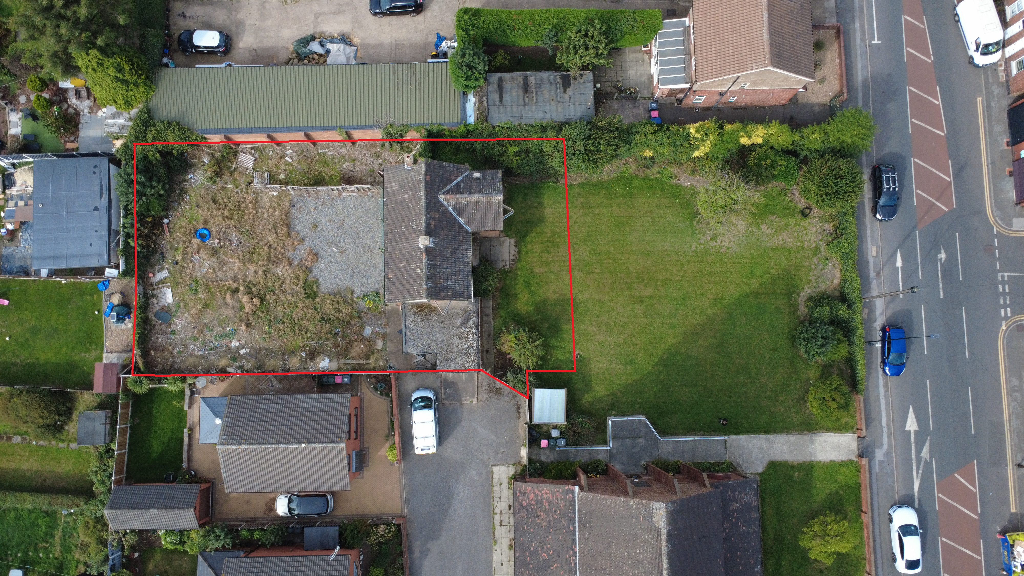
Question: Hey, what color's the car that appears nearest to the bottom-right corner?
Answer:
white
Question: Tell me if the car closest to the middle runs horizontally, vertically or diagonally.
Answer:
vertically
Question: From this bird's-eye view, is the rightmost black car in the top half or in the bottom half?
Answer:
top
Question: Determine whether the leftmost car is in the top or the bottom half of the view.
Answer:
top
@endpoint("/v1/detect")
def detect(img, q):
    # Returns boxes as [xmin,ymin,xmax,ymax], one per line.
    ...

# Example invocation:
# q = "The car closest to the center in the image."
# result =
[409,389,439,454]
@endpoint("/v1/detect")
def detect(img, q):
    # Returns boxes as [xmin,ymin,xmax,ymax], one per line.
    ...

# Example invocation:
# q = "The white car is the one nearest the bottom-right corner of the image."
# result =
[886,505,922,572]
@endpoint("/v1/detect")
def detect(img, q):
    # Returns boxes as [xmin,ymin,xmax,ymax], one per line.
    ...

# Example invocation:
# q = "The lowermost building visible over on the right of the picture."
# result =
[513,463,762,576]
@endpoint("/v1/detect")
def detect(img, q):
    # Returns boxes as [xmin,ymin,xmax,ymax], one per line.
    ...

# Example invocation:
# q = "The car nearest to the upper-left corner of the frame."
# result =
[179,25,234,56]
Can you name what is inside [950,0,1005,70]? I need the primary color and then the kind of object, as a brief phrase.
white van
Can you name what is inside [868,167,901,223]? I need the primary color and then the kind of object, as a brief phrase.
black car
